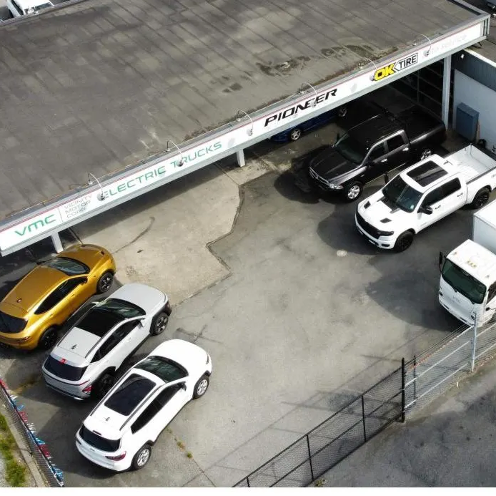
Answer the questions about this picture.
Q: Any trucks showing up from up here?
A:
Yes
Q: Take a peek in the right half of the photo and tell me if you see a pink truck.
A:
No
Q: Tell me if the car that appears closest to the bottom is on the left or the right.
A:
left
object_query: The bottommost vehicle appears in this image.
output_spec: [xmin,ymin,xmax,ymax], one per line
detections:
[75,345,211,478]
